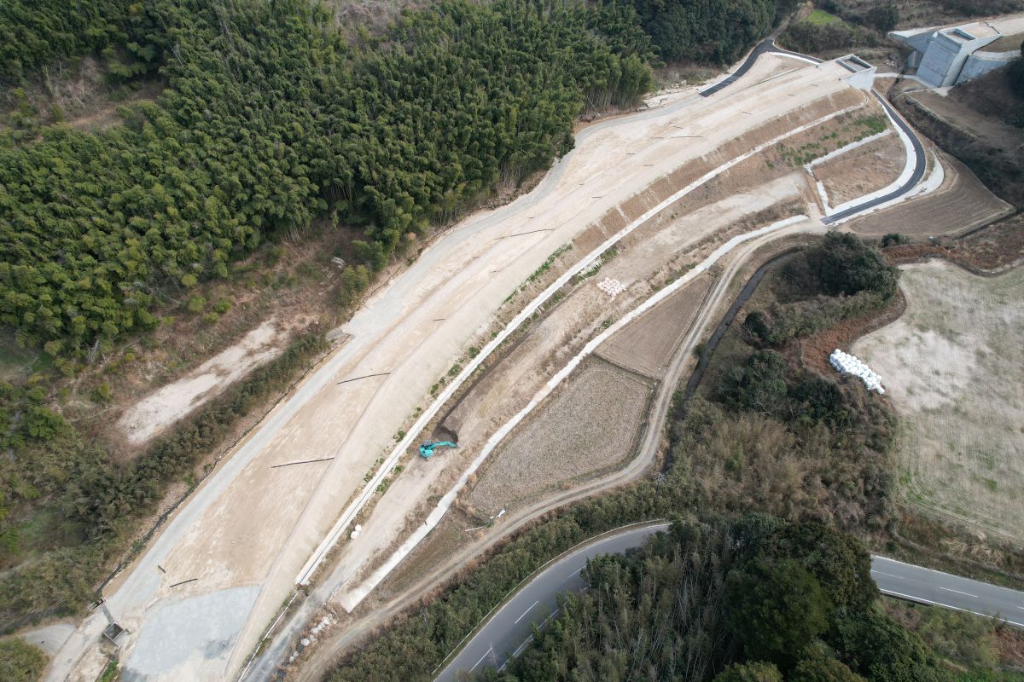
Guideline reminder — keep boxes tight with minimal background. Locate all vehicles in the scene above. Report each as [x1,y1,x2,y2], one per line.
[419,438,457,458]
